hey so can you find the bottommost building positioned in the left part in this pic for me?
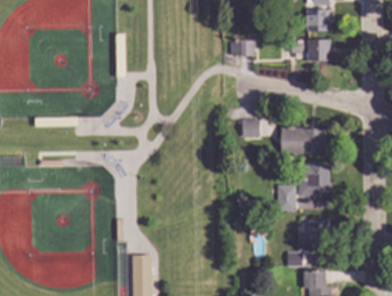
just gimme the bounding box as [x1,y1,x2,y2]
[132,256,153,296]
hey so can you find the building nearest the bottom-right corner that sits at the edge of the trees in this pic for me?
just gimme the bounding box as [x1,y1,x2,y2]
[304,270,332,296]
